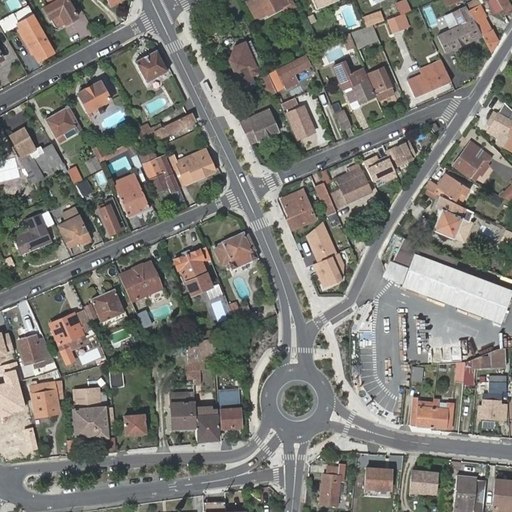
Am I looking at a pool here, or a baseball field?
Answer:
pool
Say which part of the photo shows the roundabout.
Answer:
bottom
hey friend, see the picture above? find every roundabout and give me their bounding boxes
[262,363,335,438]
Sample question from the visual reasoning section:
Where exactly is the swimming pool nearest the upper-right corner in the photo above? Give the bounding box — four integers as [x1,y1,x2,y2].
[422,4,438,28]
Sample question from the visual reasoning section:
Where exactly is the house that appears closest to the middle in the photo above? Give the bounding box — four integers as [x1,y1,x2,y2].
[214,232,255,269]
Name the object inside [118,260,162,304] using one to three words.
house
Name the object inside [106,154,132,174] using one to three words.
swimming pool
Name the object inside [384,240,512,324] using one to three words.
building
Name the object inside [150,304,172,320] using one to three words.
swimming pool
